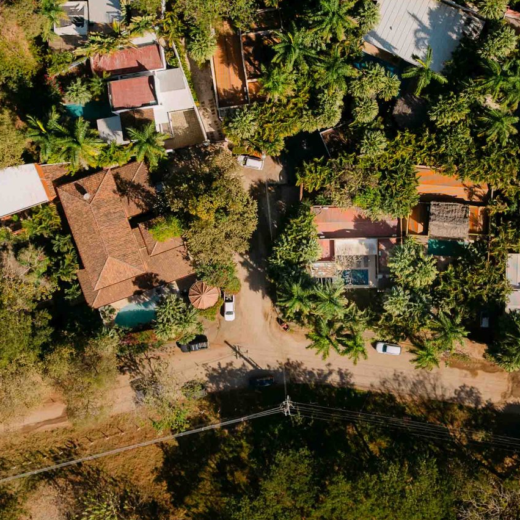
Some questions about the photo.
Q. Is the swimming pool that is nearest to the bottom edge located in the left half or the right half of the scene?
left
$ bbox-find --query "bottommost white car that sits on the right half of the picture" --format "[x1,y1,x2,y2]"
[377,342,401,355]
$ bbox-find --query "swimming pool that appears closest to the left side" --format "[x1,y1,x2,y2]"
[64,102,115,119]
